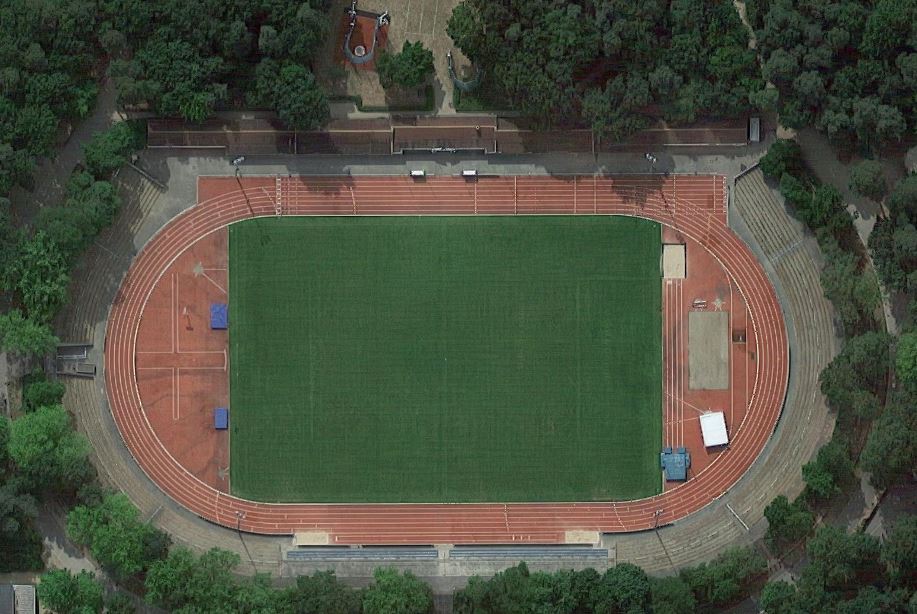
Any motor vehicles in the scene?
No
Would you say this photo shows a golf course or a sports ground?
sports ground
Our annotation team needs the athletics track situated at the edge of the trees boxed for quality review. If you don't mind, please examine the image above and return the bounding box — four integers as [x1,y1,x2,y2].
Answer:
[104,176,787,545]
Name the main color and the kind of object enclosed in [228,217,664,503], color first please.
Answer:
green soccer field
